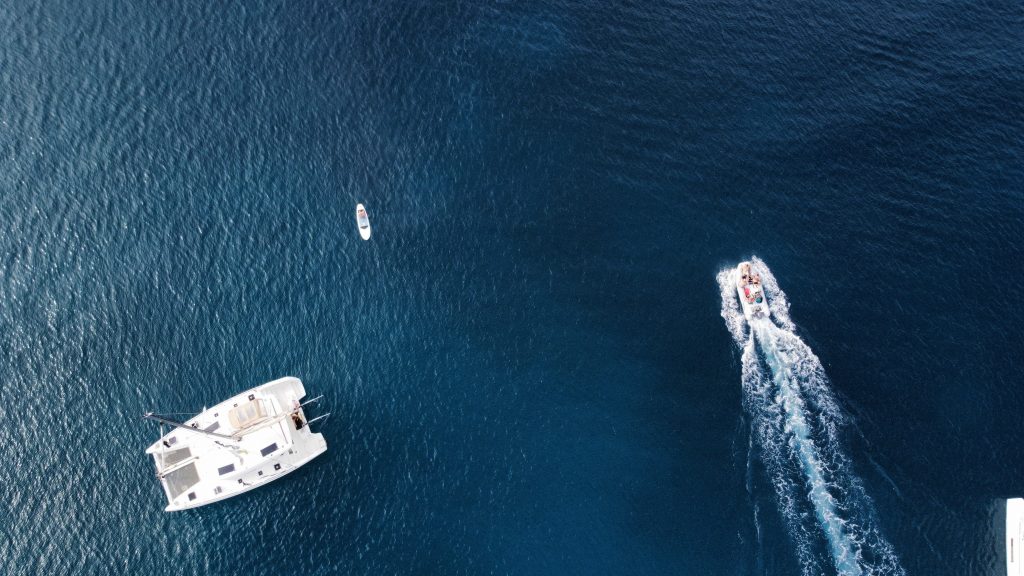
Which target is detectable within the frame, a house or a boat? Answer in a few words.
boat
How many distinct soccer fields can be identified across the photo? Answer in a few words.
0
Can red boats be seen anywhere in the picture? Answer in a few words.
No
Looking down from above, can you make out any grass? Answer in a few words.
No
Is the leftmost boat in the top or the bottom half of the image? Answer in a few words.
bottom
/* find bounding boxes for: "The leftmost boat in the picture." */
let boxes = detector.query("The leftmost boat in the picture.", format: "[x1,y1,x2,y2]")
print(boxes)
[135,379,329,514]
